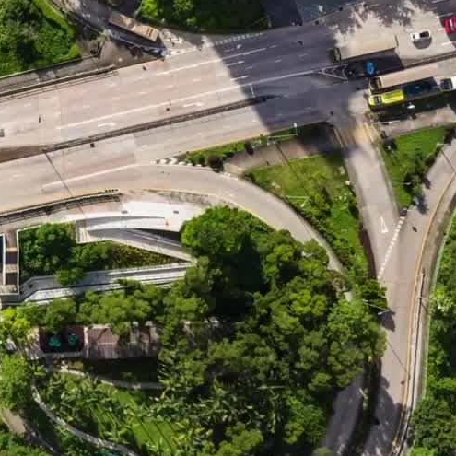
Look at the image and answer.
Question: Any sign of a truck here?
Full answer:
Yes, there's a truck down there.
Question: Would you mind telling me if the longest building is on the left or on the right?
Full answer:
It is on the left.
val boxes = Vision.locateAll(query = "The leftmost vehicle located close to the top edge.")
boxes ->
[108,10,160,41]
